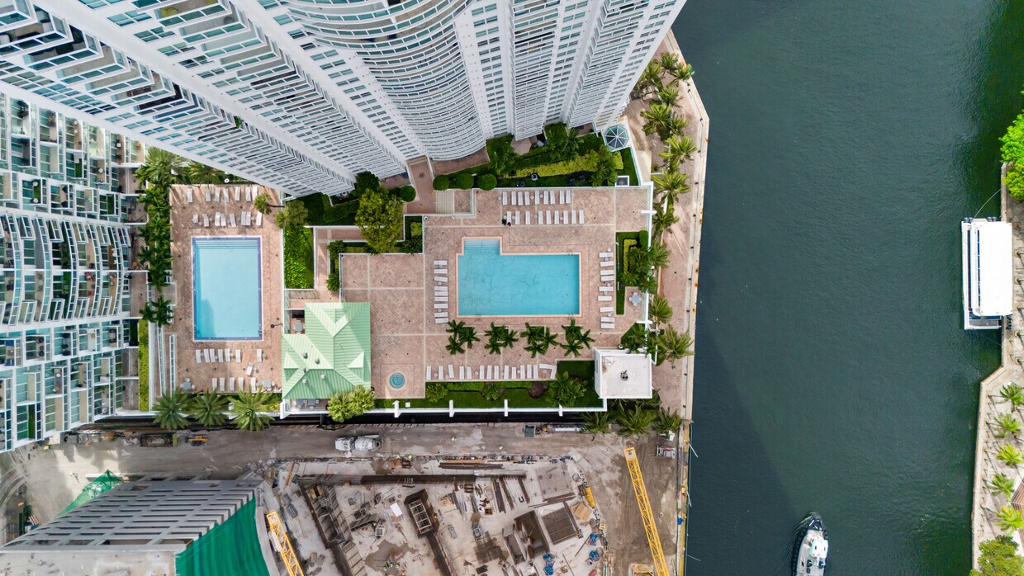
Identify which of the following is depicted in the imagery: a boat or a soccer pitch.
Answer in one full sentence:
Visible in the photo is a boat.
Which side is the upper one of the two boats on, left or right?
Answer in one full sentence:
The upper one of the two boats is on the right side of the image.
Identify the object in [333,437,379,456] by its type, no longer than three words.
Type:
vehicle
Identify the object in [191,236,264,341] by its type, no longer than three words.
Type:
swimming pool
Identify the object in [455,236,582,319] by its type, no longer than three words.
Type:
swimming pool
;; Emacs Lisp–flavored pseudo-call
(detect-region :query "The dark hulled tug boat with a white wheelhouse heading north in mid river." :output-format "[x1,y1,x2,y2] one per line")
[790,510,829,576]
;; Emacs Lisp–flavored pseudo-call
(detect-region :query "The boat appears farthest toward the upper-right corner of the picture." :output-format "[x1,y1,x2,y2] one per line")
[959,216,1012,331]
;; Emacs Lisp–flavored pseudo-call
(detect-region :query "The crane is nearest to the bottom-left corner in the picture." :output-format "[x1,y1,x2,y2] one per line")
[260,510,306,576]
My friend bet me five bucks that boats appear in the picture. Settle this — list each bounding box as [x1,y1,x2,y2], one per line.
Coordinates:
[959,216,1012,331]
[790,510,829,576]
